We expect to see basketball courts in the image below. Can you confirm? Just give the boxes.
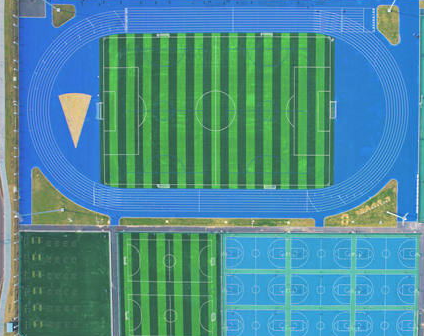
[226,274,285,305]
[355,274,415,306]
[355,311,413,336]
[291,310,350,336]
[290,237,351,269]
[291,274,350,306]
[227,310,285,336]
[355,237,416,270]
[225,237,285,269]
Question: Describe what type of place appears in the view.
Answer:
sports ground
